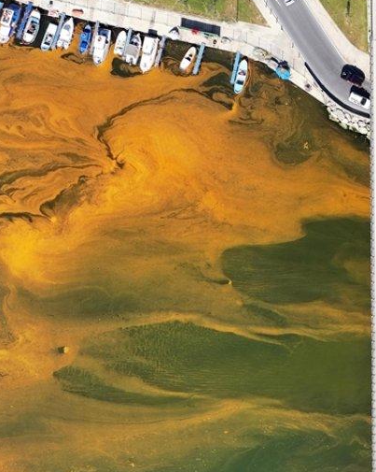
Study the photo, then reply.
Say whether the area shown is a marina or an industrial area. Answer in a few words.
marina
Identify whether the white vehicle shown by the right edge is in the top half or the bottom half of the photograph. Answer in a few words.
top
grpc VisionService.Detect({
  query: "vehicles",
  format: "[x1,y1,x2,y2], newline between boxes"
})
[346,89,370,109]
[341,65,365,84]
